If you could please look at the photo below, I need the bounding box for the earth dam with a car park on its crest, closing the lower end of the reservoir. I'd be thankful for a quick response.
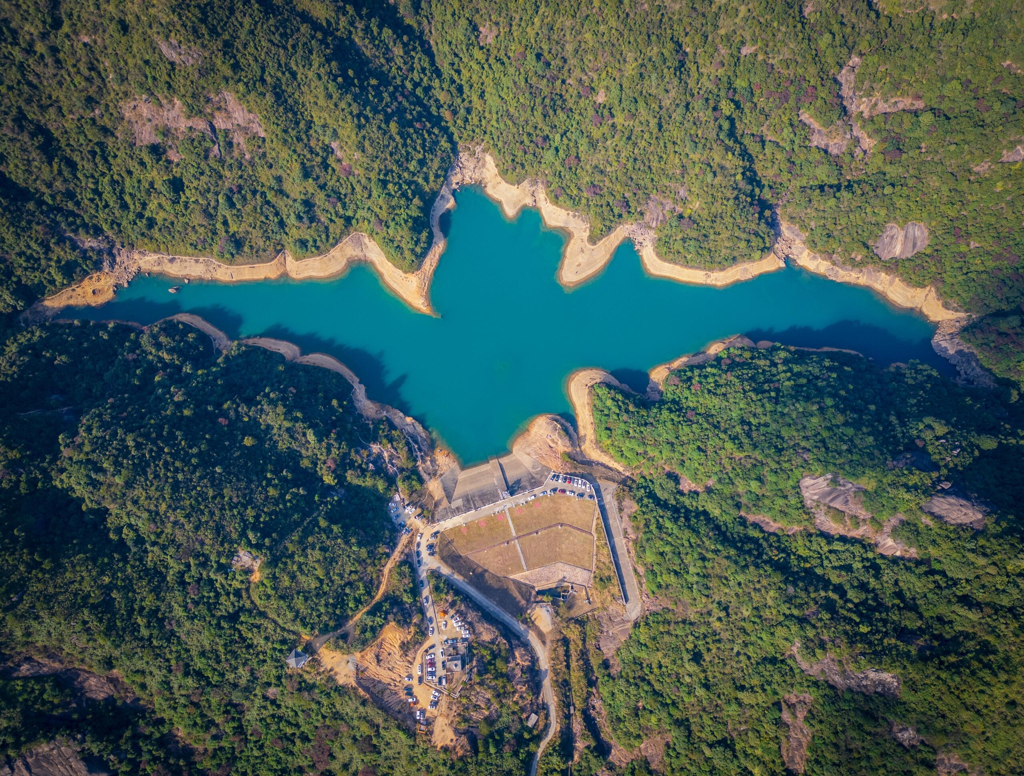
[423,450,598,587]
